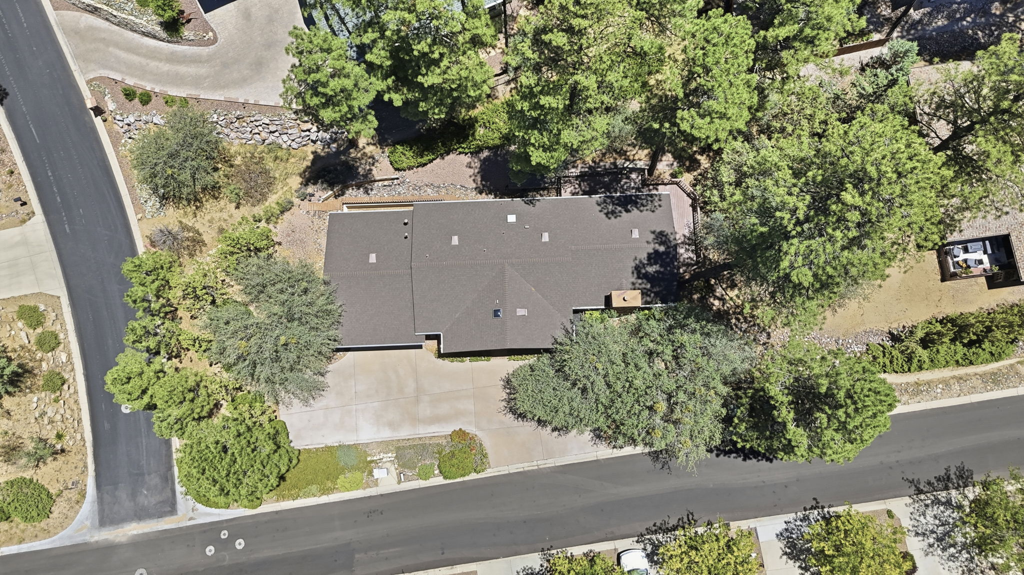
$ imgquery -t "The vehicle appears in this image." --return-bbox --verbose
[619,548,653,575]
